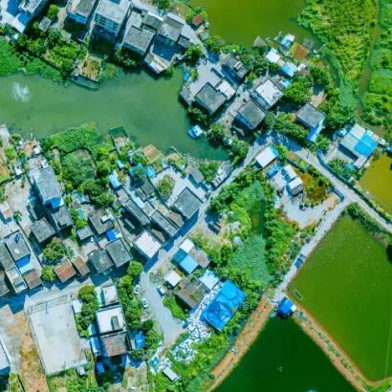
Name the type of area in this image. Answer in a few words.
residential area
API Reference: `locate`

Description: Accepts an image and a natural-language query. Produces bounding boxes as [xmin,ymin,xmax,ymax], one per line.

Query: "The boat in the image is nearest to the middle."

[188,124,203,137]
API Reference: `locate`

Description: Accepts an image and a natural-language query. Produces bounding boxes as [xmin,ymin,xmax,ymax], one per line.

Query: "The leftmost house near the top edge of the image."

[0,0,29,37]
